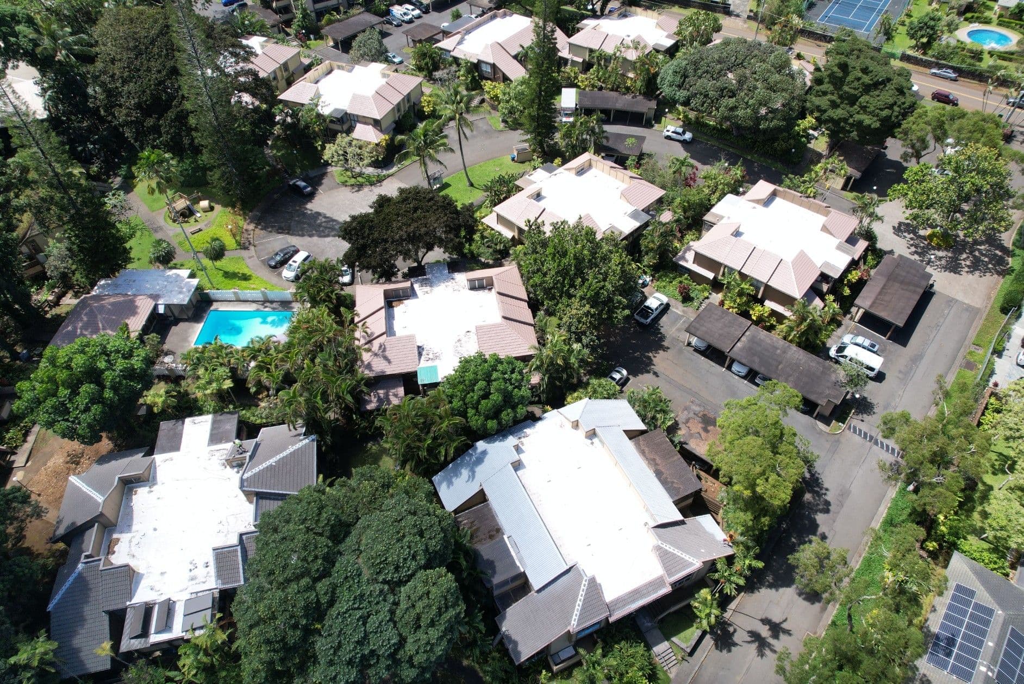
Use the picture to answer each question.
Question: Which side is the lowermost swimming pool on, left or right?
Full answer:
The lowermost swimming pool is on the left side of the image.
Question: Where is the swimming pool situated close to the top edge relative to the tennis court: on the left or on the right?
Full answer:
The tennis court has the swimming pool situated close to the top edge on its right side.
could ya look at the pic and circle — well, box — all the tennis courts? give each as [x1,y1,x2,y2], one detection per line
[800,0,903,37]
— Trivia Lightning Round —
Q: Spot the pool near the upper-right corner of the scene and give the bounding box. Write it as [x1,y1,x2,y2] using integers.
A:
[954,23,1023,50]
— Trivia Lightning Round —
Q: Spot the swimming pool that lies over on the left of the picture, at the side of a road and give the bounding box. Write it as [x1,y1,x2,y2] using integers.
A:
[155,297,322,379]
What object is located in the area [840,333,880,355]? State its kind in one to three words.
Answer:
car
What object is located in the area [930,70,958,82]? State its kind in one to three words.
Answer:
vehicle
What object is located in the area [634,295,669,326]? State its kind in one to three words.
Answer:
truck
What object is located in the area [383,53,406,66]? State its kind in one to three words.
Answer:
vehicle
